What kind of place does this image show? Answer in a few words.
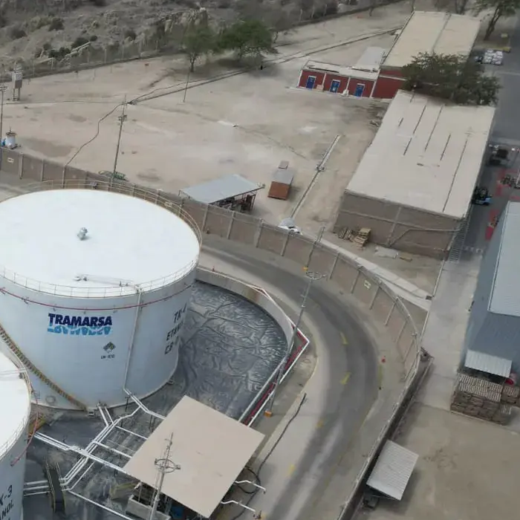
industrial area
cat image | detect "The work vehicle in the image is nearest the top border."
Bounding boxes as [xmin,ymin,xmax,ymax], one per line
[488,146,510,162]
